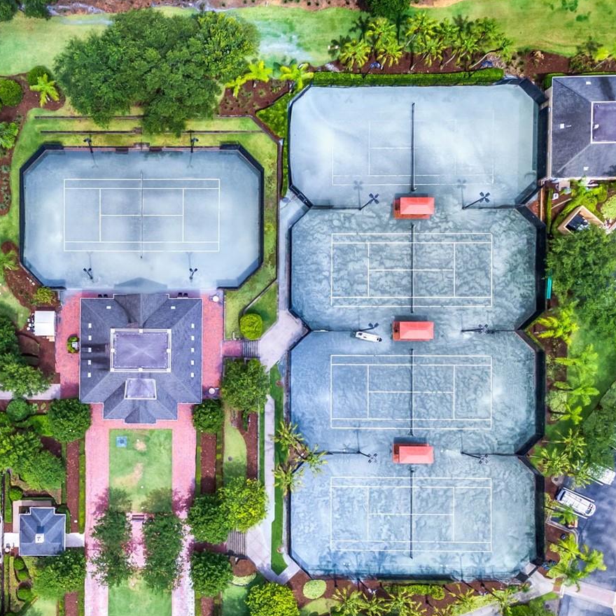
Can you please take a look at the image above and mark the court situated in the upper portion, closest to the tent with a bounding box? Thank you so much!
[21,146,261,291]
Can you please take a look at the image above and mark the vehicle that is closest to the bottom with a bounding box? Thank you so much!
[554,488,600,516]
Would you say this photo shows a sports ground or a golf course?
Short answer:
sports ground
